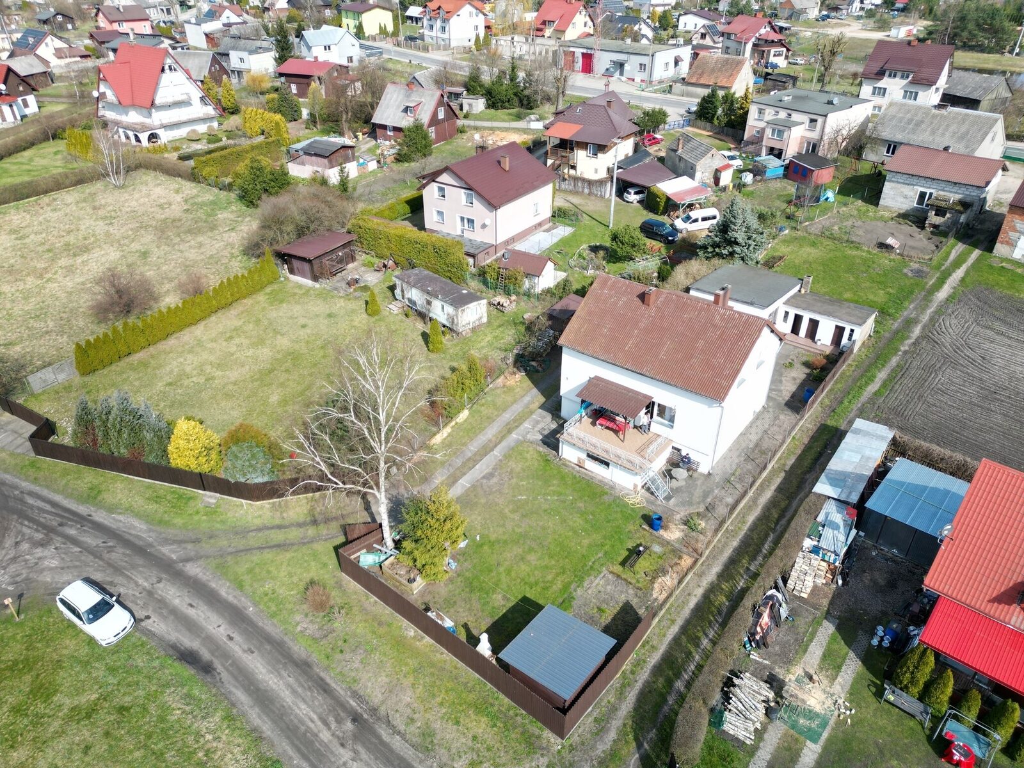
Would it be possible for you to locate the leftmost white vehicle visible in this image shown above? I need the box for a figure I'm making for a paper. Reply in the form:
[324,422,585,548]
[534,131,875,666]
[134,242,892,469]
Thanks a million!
[53,572,137,642]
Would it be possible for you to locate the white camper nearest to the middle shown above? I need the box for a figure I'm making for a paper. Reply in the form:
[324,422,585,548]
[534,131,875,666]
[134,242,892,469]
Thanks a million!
[393,266,487,332]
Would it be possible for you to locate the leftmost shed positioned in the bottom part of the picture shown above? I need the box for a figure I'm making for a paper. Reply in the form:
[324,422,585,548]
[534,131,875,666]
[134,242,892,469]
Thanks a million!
[499,599,618,716]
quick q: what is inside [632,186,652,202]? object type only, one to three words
car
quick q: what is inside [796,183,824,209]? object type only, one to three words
trampoline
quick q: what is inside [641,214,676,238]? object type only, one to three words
car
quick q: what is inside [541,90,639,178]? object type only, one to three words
house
